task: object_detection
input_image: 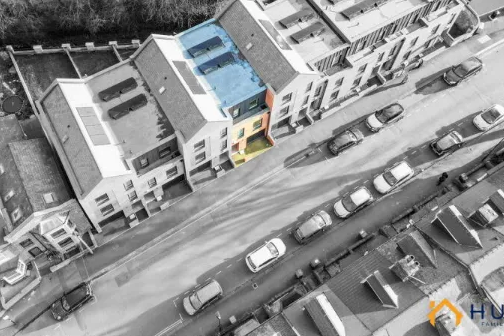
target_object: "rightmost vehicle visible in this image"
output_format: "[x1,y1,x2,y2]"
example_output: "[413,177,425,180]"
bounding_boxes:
[472,103,504,130]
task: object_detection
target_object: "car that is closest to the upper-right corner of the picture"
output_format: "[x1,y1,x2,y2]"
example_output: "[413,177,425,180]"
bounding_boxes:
[444,58,483,86]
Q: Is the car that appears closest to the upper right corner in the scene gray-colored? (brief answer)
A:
Yes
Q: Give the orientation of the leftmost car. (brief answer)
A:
on a diagonal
